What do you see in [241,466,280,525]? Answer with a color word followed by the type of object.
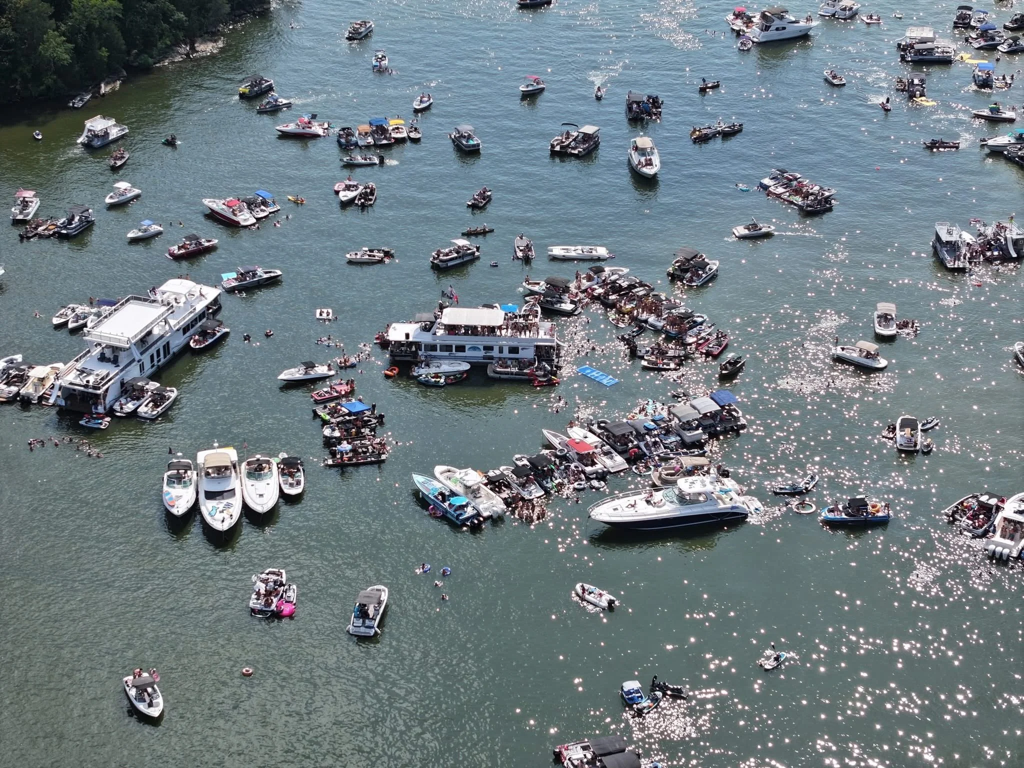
white boat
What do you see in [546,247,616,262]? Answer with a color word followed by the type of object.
white boat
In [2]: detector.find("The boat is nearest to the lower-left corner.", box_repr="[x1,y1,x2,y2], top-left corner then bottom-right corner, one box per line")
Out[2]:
[121,670,163,717]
